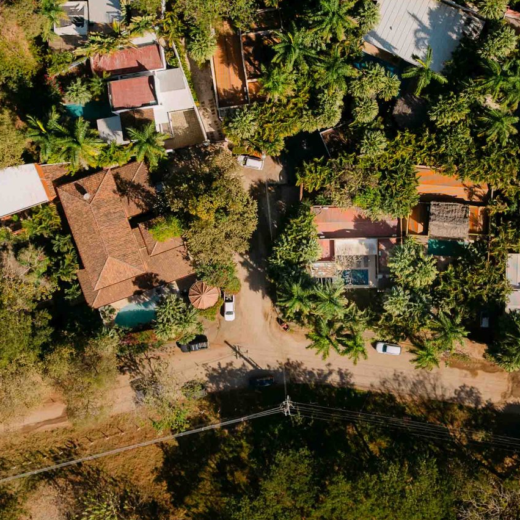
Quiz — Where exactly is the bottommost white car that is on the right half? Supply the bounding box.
[377,342,401,355]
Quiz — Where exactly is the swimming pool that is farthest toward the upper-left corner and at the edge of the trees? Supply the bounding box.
[64,102,115,119]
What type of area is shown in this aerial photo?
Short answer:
residential area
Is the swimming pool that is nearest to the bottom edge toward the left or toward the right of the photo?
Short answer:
left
